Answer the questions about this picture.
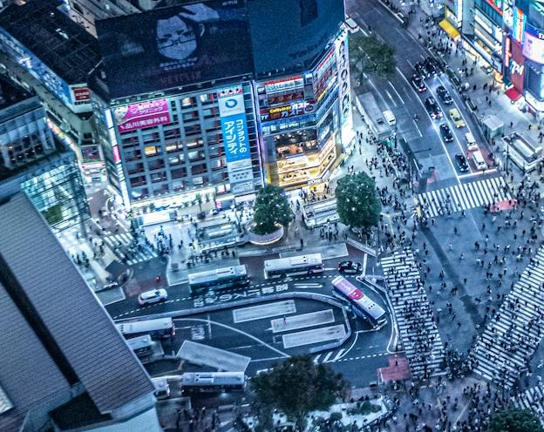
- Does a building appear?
Yes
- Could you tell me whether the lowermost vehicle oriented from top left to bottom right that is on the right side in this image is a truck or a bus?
bus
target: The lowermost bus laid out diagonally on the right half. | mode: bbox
[333,275,388,328]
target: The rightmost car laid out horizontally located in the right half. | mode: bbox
[335,262,363,275]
